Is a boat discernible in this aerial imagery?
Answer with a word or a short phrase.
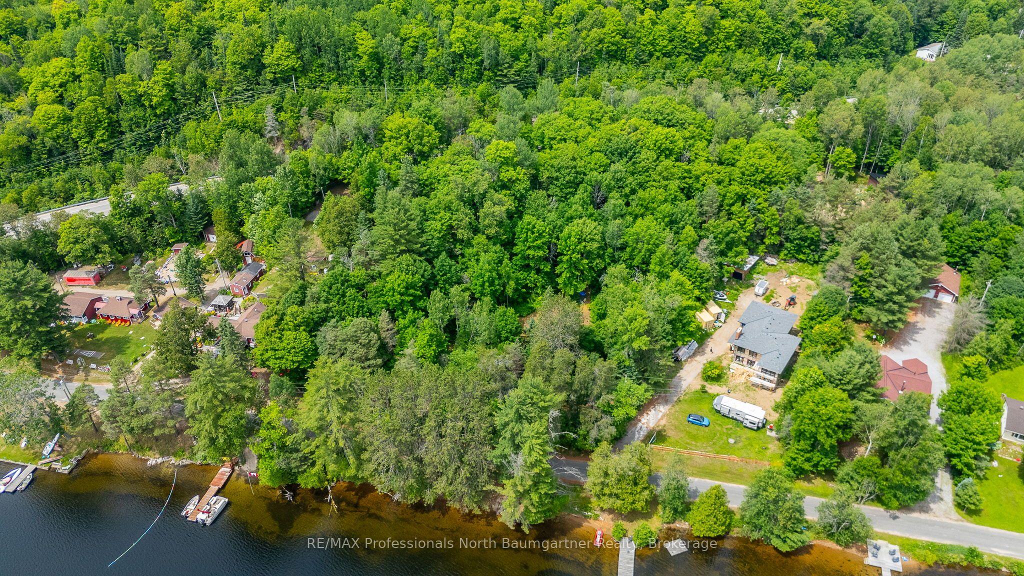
Yes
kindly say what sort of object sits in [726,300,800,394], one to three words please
house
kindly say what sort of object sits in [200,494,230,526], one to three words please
boat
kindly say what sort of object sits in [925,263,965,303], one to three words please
building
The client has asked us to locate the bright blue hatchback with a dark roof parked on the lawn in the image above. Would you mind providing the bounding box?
[687,411,710,427]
